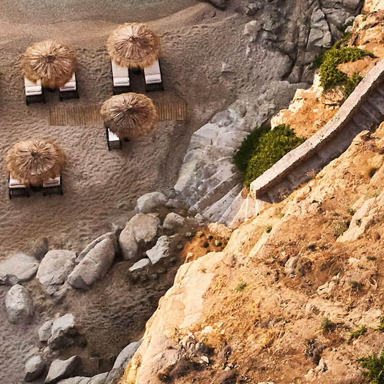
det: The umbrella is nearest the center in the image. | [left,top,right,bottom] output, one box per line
[98,92,160,143]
